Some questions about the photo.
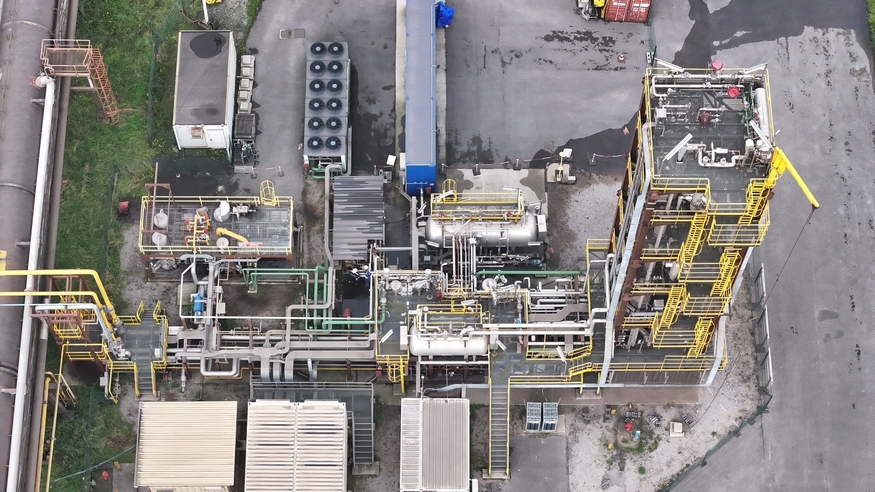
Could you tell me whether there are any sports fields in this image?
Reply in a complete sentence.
No, I can't see a single sports field in this photo.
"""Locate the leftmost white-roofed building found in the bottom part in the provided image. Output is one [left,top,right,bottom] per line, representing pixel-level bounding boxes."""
[131,400,238,492]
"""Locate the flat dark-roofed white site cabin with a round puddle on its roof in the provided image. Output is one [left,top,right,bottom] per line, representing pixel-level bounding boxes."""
[174,30,233,148]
